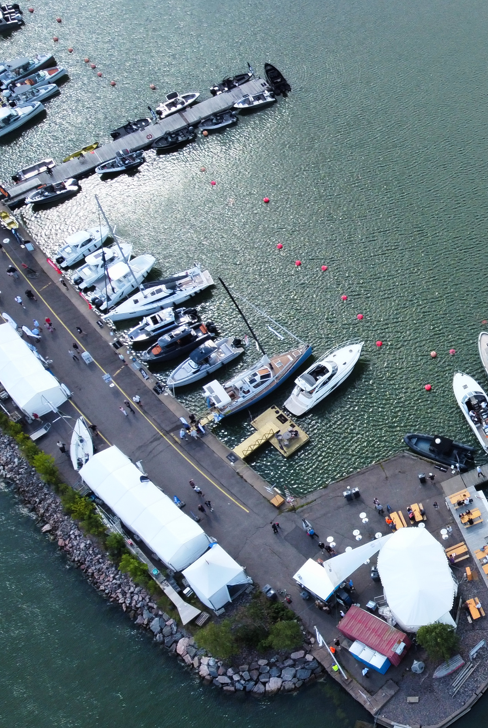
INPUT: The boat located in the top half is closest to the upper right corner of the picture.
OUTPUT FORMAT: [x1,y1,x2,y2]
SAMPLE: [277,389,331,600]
[265,64,291,99]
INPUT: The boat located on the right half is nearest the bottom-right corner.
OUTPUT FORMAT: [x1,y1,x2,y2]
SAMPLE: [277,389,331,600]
[432,652,465,678]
